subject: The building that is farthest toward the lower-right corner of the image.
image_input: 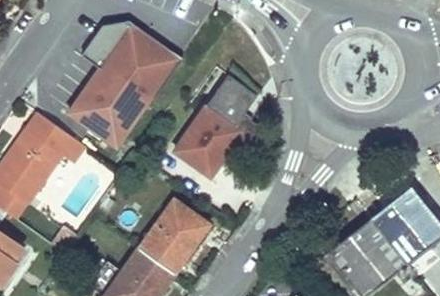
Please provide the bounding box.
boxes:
[324,188,440,296]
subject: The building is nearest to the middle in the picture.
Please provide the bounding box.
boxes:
[174,106,246,181]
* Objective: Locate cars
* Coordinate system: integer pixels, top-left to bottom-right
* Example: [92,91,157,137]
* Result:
[269,10,289,29]
[399,18,421,31]
[14,13,33,33]
[250,0,270,14]
[424,84,440,100]
[176,0,192,18]
[160,153,180,171]
[180,176,200,194]
[334,18,355,33]
[242,252,258,274]
[78,13,96,34]
[36,0,45,11]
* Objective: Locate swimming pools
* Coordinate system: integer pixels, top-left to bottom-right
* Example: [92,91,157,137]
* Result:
[119,208,138,228]
[60,172,101,219]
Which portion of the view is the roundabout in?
top right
